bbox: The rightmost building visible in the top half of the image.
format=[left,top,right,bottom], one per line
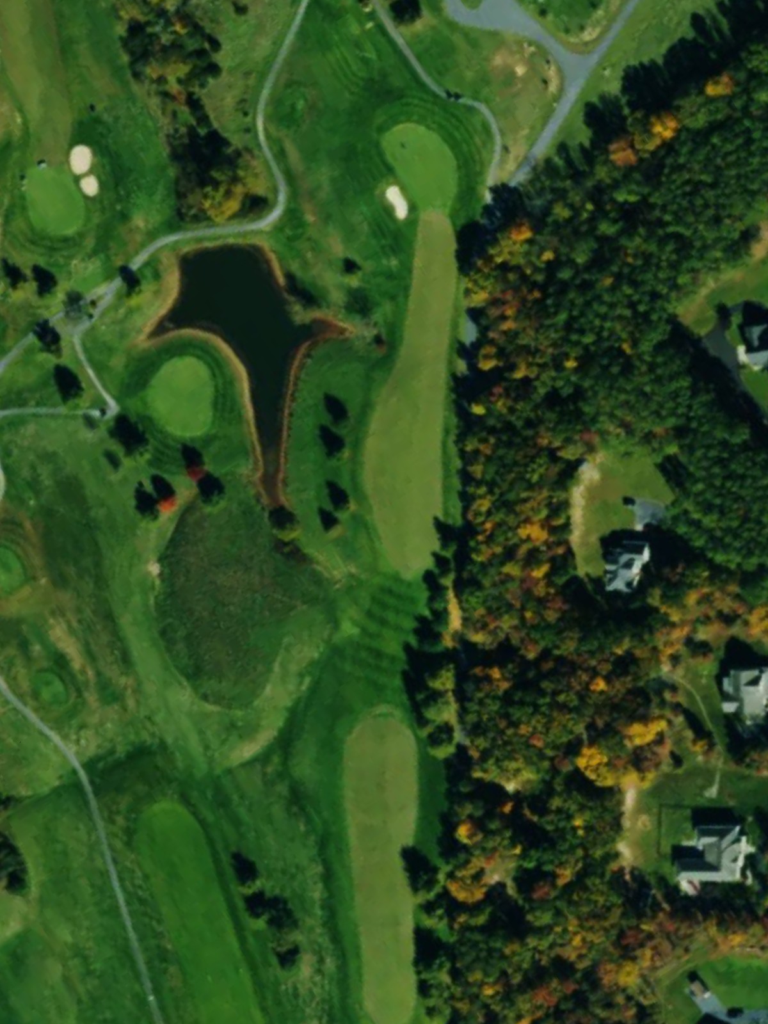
[738,321,768,370]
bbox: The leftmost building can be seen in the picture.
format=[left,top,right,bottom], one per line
[607,542,652,591]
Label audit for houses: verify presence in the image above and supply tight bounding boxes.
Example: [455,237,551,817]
[677,828,753,894]
[607,542,652,591]
[738,321,768,370]
[723,671,768,718]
